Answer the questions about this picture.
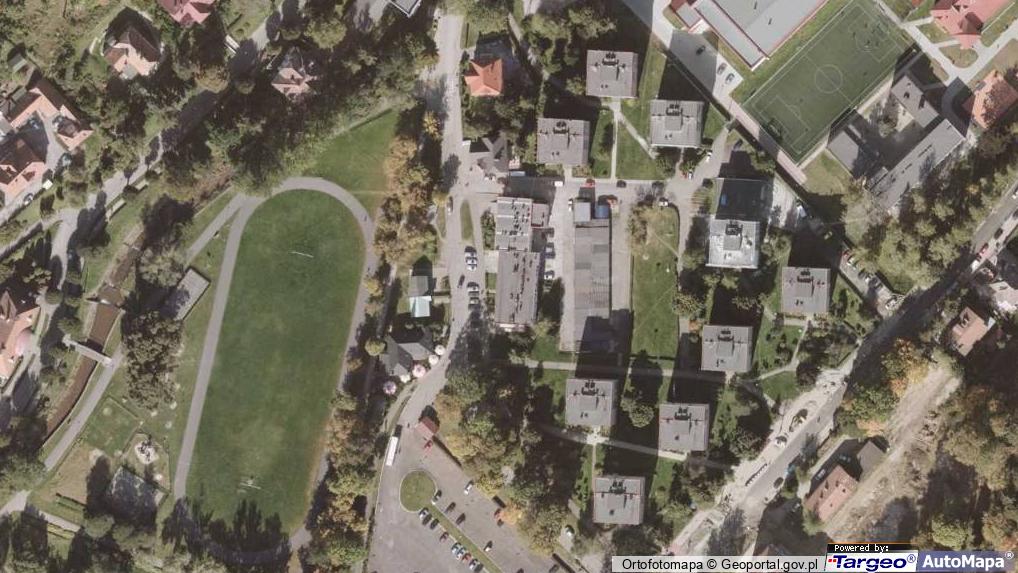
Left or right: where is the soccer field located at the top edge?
right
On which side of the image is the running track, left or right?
left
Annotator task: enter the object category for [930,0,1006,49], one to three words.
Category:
house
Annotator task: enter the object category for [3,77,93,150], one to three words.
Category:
house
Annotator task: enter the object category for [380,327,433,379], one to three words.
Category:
building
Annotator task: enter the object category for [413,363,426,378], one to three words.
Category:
umbrella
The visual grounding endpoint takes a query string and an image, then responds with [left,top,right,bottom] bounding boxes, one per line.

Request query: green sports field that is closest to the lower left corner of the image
[187,190,365,549]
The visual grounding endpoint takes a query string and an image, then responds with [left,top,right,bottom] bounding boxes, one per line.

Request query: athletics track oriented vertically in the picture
[176,177,378,561]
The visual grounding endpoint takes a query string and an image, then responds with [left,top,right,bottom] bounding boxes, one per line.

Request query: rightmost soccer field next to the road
[742,0,908,164]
